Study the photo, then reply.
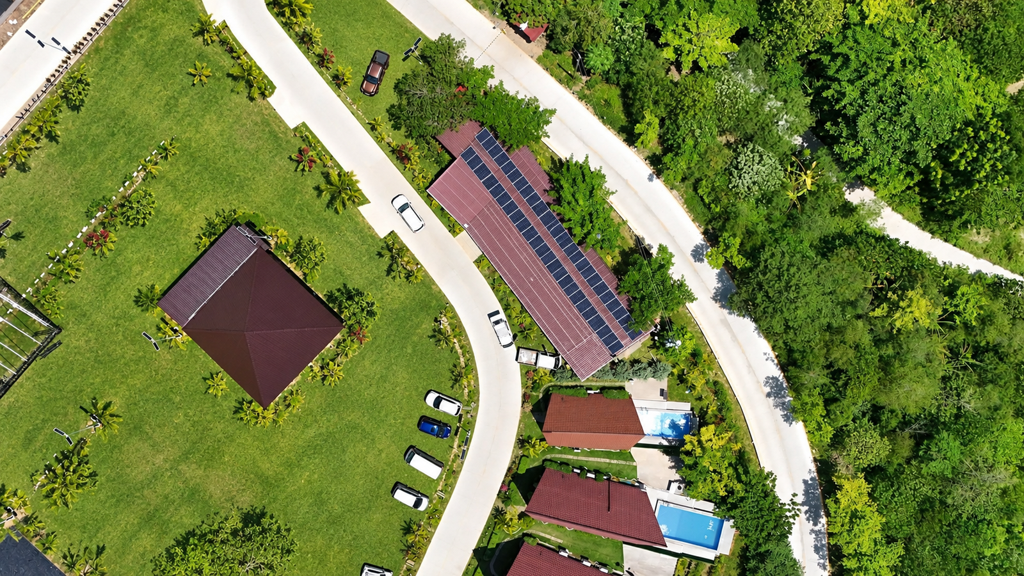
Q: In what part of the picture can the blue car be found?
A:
bottom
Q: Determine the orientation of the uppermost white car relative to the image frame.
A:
on a diagonal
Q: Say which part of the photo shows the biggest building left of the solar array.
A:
left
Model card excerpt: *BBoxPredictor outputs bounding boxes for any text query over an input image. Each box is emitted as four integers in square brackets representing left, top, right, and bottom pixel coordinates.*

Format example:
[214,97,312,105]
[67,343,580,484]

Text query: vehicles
[391,483,430,509]
[418,416,453,438]
[486,308,517,353]
[424,390,463,417]
[404,448,445,481]
[516,347,560,371]
[391,195,425,236]
[358,563,397,576]
[361,50,391,97]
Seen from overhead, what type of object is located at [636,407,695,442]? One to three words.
swimming pool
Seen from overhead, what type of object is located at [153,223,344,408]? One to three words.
building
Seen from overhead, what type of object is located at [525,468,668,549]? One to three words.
house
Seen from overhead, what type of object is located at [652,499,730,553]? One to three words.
swimming pool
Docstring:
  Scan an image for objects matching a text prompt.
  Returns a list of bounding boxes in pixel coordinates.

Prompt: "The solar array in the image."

[461,147,624,355]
